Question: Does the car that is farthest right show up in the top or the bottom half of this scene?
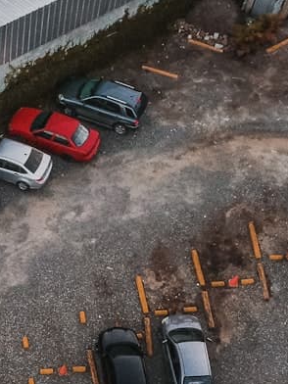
bottom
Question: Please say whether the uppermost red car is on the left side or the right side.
left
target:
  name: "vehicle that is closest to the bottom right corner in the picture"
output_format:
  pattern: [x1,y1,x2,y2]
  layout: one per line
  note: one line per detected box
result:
[160,314,218,384]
